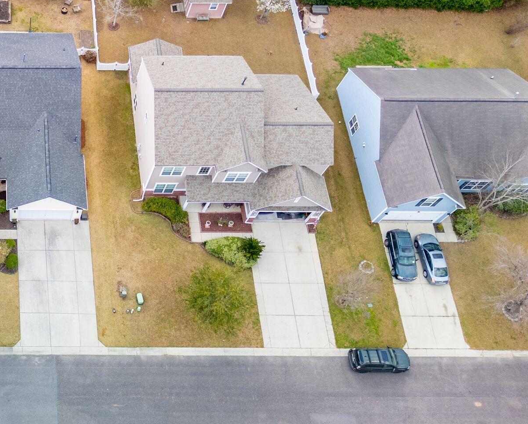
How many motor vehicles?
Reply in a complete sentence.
Looking from above, you can make out 3 motor vehicles.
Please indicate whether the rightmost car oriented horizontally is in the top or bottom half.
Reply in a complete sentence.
The rightmost car oriented horizontally is in the bottom half of the image.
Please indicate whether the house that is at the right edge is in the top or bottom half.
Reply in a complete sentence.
You can find the house that is at the right edge in the top half.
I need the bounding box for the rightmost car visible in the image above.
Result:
[413,234,456,288]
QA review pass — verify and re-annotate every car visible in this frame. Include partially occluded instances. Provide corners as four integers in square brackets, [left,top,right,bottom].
[413,234,456,288]
[381,229,420,285]
[344,346,411,377]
